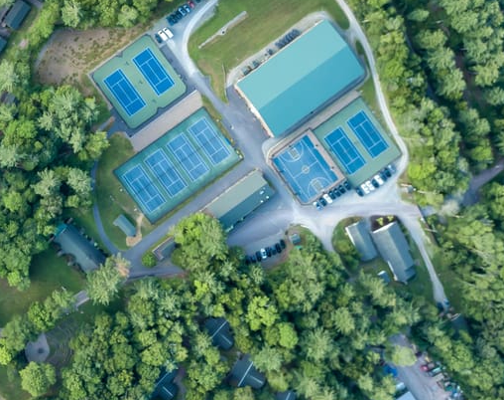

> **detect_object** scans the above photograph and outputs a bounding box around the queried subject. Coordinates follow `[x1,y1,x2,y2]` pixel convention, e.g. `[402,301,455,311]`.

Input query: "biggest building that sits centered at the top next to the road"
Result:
[233,20,364,136]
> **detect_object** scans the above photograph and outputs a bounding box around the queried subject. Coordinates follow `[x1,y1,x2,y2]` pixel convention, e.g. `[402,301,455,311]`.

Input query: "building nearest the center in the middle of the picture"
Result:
[205,169,275,231]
